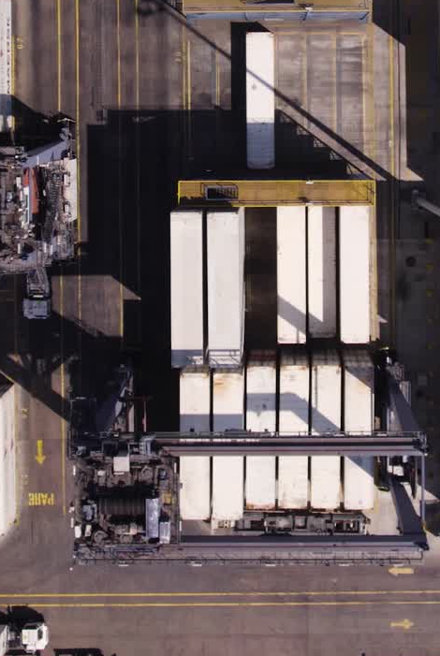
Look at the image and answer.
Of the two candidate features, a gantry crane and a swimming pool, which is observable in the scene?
gantry crane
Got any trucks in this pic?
Yes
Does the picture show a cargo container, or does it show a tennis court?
cargo container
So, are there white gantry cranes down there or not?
No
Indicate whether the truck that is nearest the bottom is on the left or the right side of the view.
left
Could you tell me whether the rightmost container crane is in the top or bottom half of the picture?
bottom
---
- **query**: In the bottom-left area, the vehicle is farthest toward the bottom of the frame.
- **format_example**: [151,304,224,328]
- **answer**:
[0,615,47,655]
